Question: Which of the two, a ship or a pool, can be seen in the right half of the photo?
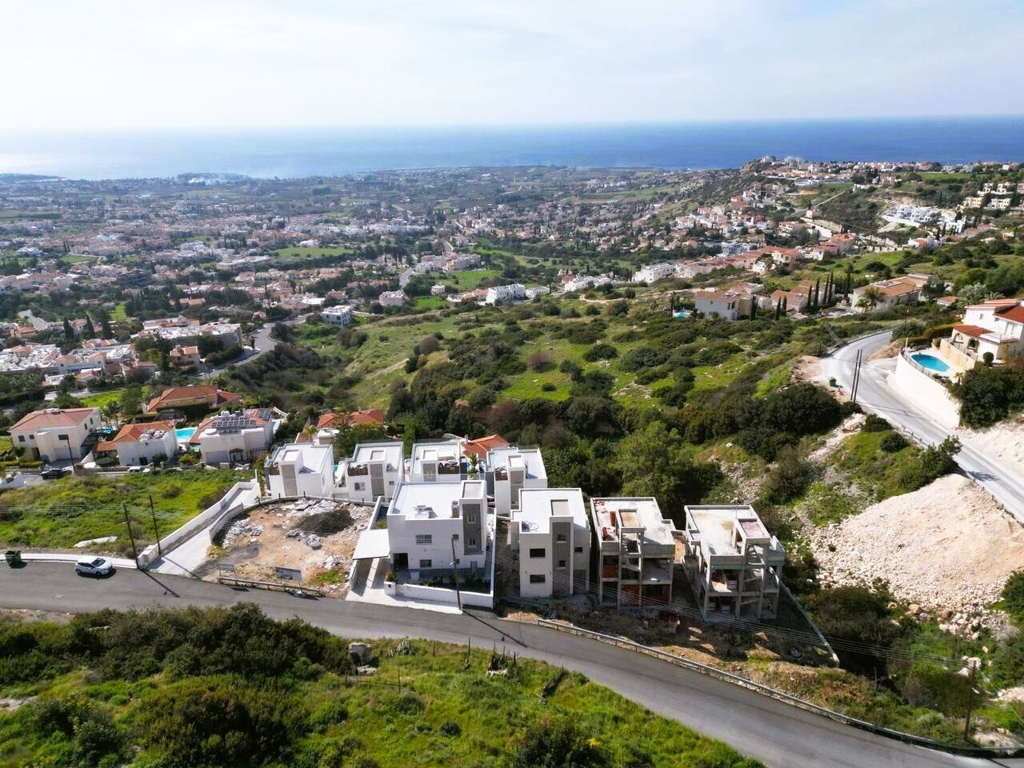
pool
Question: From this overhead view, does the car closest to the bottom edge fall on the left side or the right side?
left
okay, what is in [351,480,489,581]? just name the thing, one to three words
house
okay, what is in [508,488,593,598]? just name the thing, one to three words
house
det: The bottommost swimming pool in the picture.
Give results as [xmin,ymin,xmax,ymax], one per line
[375,497,394,520]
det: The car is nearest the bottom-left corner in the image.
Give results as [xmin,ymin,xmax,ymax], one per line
[71,557,115,579]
